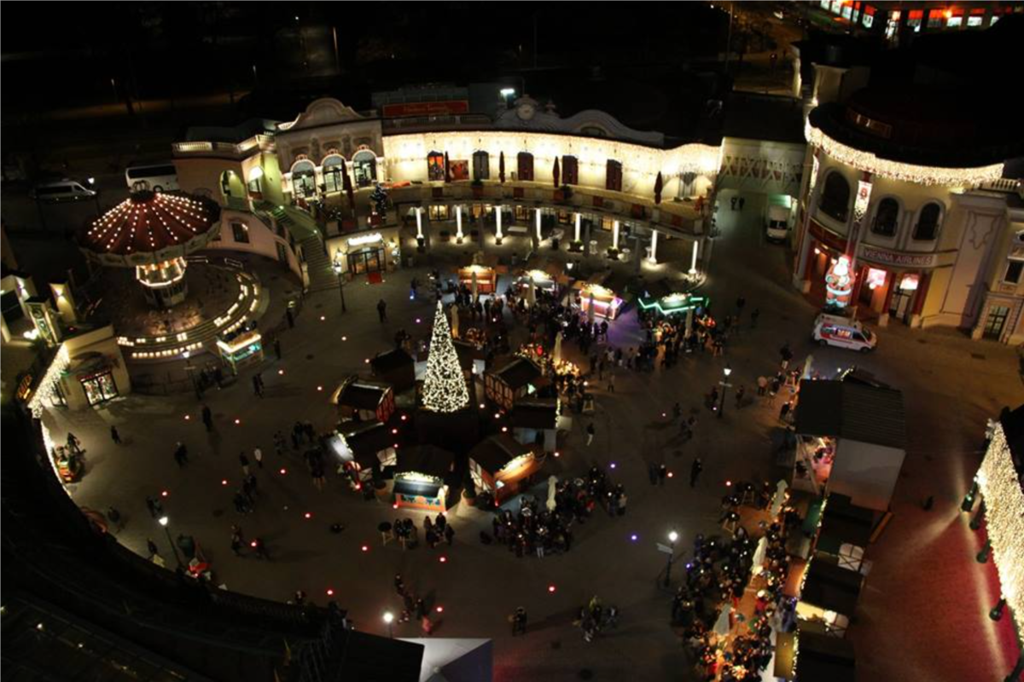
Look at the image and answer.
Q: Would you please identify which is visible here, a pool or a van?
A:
van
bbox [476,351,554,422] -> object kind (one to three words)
shed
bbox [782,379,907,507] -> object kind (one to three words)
building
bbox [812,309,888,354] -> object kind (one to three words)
van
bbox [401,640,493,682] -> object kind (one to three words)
tent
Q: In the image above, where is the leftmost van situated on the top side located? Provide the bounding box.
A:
[32,171,104,203]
